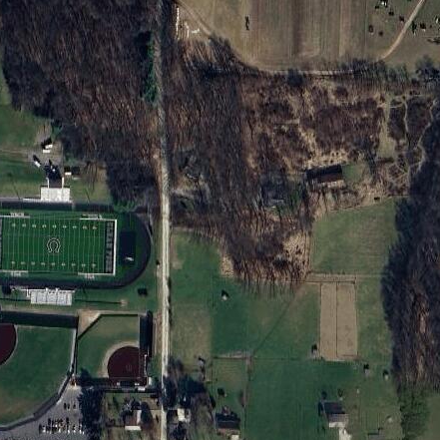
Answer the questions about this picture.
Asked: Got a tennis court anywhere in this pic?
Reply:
No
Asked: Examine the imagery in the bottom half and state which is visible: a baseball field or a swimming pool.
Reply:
baseball field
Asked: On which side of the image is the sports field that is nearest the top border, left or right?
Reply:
left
